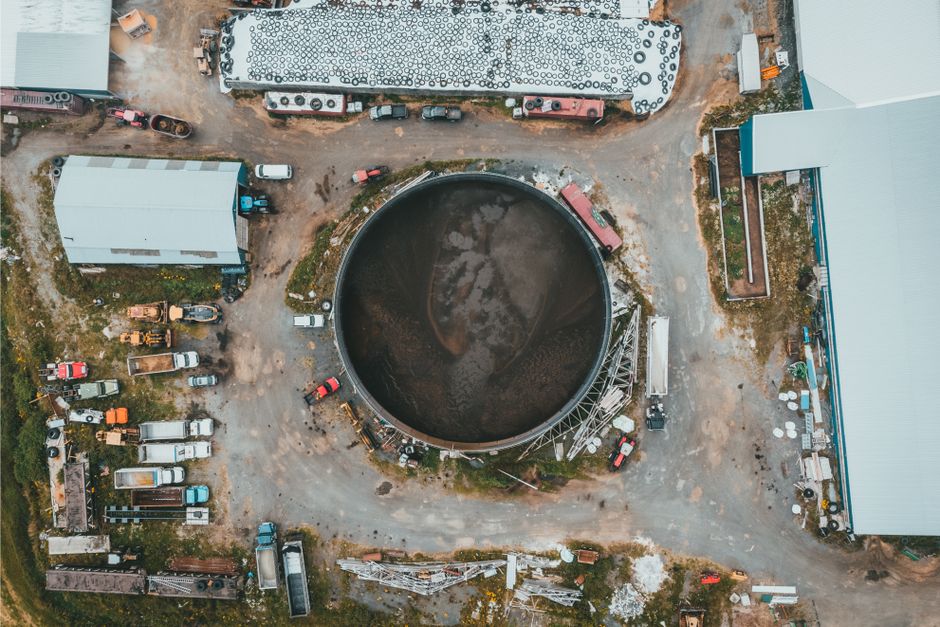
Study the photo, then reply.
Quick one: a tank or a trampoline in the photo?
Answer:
tank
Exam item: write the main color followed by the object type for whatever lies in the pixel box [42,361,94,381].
red vehicle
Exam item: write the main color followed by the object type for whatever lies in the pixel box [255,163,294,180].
white vehicle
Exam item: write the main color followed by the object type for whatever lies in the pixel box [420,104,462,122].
gray vehicle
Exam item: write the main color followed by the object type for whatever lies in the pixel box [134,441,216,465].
white truck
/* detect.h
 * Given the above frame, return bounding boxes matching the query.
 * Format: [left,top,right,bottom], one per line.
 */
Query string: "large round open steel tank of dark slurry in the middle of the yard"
[332,172,612,452]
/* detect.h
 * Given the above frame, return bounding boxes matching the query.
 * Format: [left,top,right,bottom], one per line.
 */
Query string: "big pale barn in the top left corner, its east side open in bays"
[0,0,137,97]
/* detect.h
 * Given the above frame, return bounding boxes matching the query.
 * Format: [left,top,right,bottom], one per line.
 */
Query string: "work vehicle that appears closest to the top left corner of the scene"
[101,107,150,130]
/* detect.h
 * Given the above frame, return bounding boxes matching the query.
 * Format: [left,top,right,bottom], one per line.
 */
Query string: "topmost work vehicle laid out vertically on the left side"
[196,28,218,78]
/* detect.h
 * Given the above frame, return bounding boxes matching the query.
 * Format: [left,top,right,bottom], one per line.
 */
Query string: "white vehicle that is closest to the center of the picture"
[293,313,326,328]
